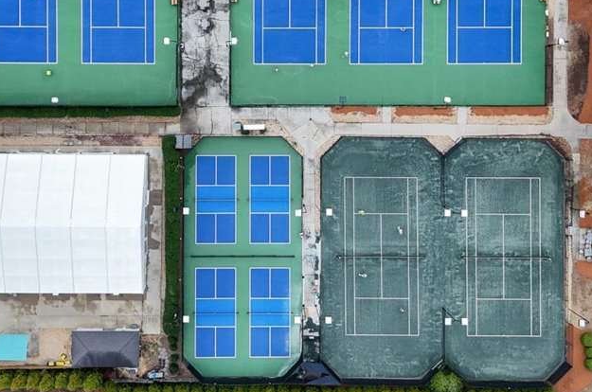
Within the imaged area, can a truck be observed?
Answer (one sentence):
No, the picture doesn't show any truck.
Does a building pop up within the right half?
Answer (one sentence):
No, within the right half there is no building.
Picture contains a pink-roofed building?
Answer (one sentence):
No, there appears to be no pink-roofed building in this shot.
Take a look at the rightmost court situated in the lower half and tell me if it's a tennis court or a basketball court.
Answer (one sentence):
I'd say the rightmost court situated in the lower half is a tennis court.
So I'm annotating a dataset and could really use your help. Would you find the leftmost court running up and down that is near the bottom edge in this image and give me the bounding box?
[184,257,242,379]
